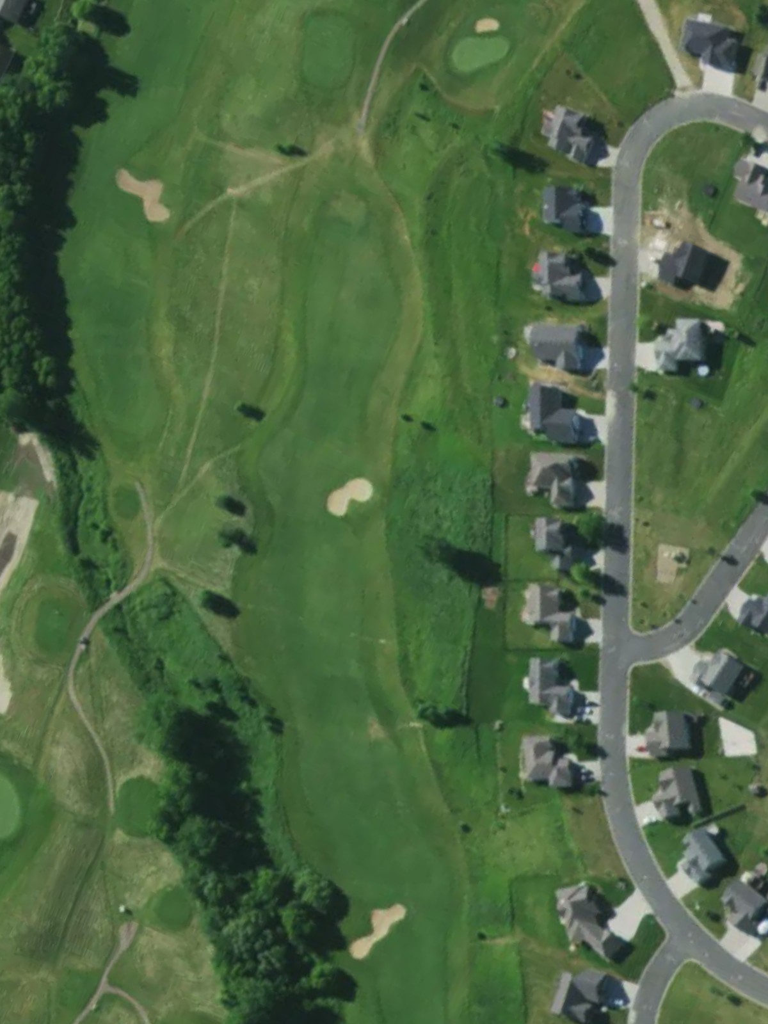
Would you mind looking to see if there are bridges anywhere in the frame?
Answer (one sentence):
No, no bridge is visible in the view.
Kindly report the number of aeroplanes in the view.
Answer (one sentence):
No aeroplanes are visible.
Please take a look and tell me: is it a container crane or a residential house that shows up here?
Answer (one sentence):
Looking from above, you can make out a residential house.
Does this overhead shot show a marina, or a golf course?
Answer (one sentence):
The area seen from above is a golf course.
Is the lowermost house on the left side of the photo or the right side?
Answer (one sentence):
You can find the lowermost house on the right side of the picture.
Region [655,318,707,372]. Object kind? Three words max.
house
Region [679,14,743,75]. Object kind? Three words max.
house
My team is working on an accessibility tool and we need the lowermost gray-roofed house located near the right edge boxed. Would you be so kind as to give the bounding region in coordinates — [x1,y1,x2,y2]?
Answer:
[719,875,768,939]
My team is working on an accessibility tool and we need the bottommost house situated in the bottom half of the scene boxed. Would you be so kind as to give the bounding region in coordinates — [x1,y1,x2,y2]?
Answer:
[551,967,611,1024]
